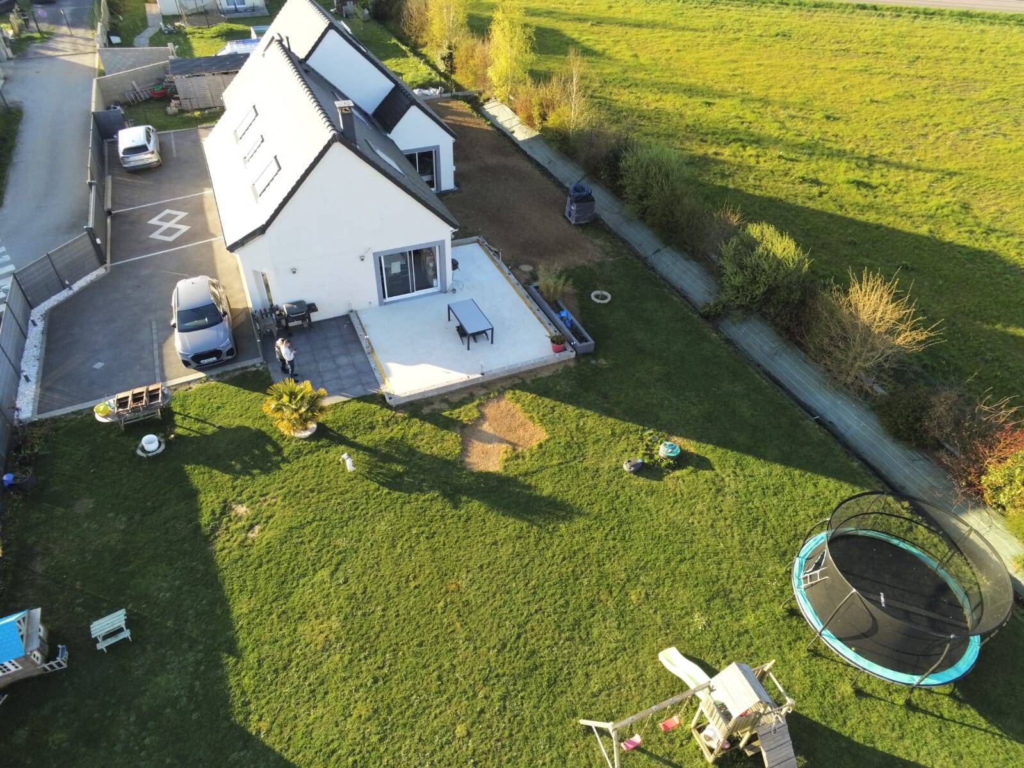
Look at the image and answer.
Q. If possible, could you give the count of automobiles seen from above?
two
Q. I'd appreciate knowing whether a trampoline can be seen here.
Yes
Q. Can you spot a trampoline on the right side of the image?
Yes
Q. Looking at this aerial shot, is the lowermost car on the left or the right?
left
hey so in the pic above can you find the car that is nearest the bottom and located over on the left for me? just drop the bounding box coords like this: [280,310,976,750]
[173,277,241,370]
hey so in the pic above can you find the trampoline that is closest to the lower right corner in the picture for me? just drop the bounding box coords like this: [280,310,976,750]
[784,493,1014,707]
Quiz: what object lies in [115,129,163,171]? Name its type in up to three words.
car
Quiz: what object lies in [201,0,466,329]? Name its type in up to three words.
house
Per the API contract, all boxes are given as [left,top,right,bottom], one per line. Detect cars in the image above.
[173,277,241,370]
[115,129,163,171]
